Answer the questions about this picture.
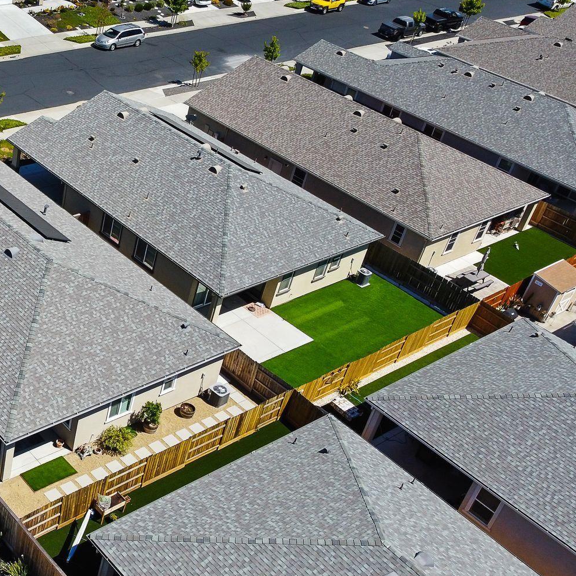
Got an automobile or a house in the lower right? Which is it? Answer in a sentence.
Visible in the lower right is a house.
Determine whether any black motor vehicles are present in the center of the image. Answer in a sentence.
No, no black motor vehicle appears in the center of the image.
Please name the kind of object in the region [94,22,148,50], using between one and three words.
car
